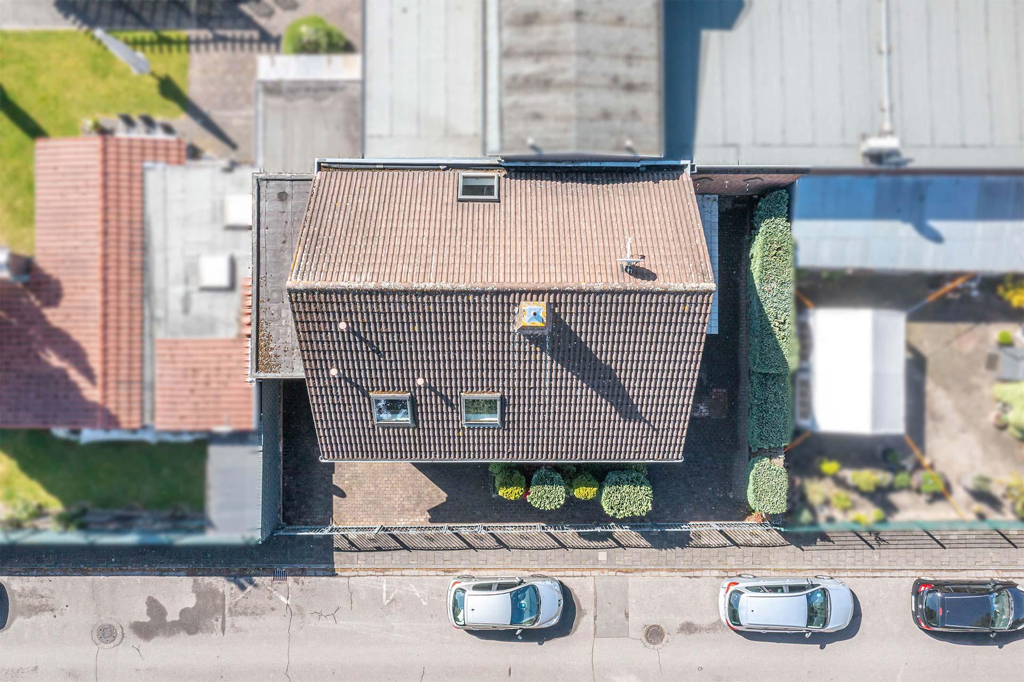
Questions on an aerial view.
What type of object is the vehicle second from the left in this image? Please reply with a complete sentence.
The vehicle second from the left in the image is a car.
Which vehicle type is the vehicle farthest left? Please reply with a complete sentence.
It looks like the vehicle farthest left is an automobile.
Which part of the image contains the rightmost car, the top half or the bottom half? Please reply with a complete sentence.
Seen from above, the rightmost car lies in the bottom half of the view.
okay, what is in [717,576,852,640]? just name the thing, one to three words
car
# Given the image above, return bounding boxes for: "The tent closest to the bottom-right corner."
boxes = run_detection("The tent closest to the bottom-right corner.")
[779,272,972,520]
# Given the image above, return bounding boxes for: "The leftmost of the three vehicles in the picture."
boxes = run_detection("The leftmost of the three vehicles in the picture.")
[447,575,563,638]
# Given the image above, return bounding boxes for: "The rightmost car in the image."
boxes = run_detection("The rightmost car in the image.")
[905,577,1024,641]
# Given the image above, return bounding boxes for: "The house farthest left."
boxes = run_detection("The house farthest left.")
[0,132,184,430]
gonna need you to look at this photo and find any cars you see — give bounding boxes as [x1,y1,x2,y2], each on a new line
[447,575,563,638]
[905,577,1024,641]
[717,576,852,640]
